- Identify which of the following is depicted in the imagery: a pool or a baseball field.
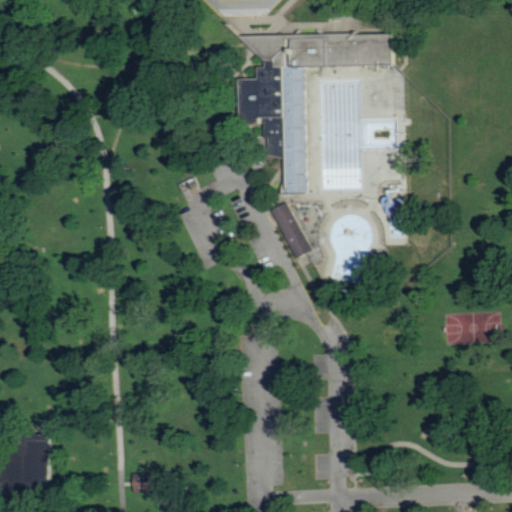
pool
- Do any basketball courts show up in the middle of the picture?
No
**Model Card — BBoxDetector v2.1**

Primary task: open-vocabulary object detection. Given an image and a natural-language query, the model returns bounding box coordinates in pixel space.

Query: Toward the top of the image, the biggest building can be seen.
[238,30,391,193]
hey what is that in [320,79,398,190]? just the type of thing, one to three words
swimming pool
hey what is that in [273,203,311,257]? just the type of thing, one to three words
building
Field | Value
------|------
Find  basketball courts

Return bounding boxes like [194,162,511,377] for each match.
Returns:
[446,312,502,345]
